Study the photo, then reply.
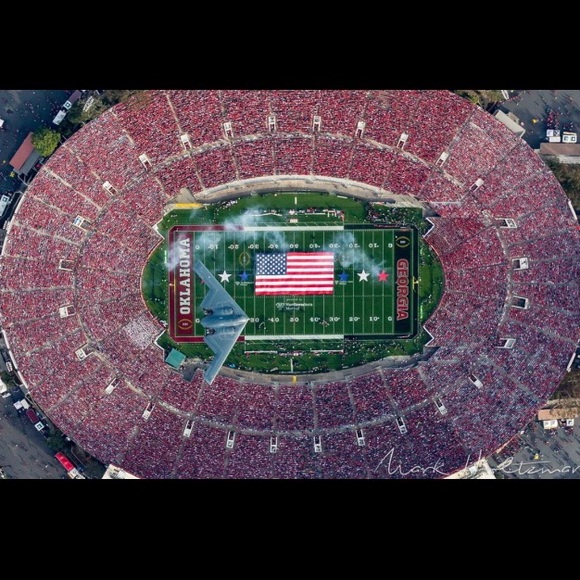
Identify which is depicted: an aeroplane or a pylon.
aeroplane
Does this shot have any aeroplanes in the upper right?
No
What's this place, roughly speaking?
sports ground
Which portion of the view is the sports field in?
center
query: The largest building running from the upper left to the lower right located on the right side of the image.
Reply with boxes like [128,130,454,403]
[493,109,527,138]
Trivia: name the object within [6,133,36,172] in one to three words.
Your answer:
building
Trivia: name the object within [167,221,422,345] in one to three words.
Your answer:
sports field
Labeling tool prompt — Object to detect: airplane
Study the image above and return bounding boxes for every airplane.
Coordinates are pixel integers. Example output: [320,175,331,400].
[194,259,249,387]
